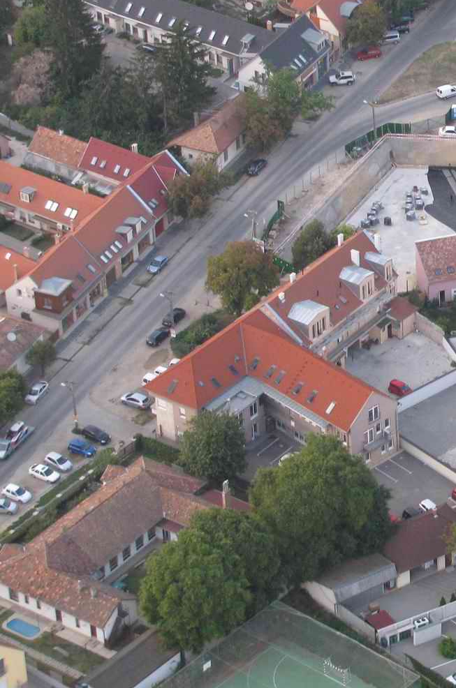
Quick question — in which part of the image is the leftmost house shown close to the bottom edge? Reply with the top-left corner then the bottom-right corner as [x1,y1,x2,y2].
[0,641,29,688]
